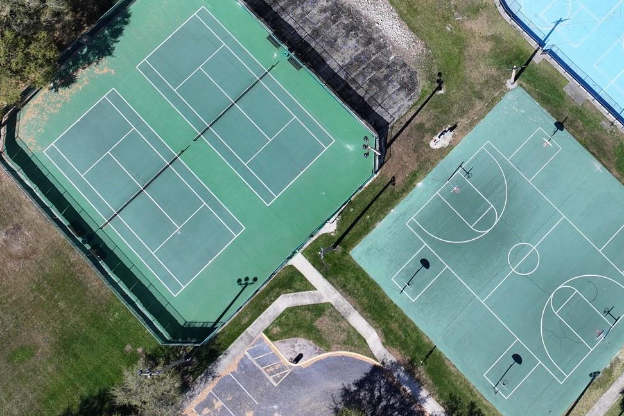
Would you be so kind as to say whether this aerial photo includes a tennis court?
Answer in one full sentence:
Yes, this view includes a tennis court.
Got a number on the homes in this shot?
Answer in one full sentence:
The picture shows no homes.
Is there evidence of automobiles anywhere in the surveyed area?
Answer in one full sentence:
No, I find no automobile anywhere in the image.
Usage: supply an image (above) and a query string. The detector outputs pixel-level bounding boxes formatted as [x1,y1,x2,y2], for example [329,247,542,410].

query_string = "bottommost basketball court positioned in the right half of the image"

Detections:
[349,86,624,416]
